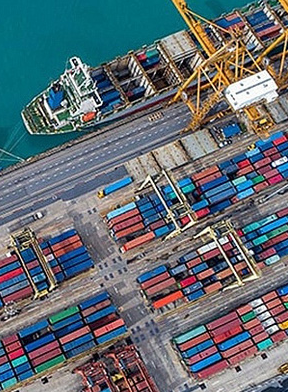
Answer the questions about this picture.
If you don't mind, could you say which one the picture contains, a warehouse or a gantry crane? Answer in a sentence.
The one in the frame is a gantry crane.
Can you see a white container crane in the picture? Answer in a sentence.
Yes, the image includes a white container crane.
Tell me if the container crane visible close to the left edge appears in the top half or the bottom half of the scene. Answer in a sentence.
The container crane visible close to the left edge is in the bottom half of the image.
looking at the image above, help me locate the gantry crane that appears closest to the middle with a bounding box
[133,167,196,242]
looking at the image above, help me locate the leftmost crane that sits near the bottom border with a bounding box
[65,357,117,392]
